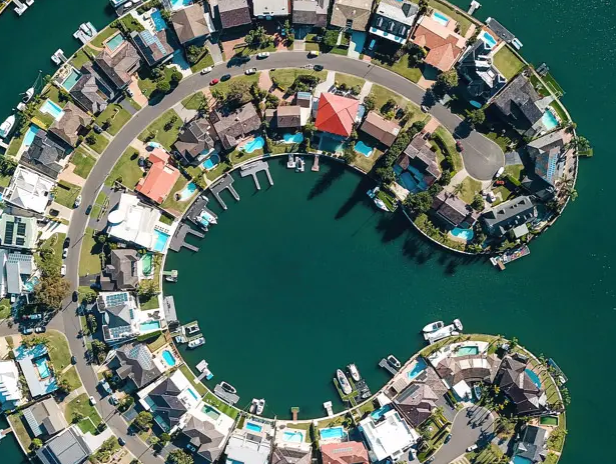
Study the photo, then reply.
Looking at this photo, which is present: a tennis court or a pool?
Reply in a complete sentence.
I can see a pool in this picture.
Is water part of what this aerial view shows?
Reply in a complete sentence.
Yes, some water is visible.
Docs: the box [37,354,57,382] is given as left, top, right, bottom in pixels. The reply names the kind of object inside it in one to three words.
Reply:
swimming pool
